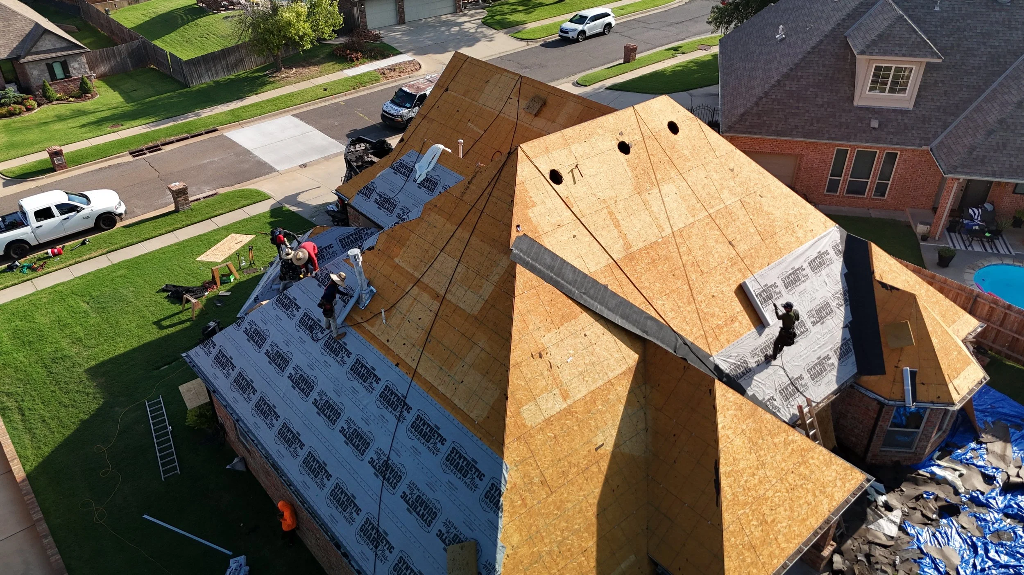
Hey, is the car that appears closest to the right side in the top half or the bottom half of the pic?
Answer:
top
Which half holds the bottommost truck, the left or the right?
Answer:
left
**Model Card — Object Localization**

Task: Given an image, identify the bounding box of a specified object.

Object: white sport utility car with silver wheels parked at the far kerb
[557,4,618,40]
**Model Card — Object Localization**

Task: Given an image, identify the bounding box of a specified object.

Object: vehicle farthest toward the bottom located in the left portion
[0,181,134,251]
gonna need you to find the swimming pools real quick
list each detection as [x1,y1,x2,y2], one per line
[956,254,1024,328]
